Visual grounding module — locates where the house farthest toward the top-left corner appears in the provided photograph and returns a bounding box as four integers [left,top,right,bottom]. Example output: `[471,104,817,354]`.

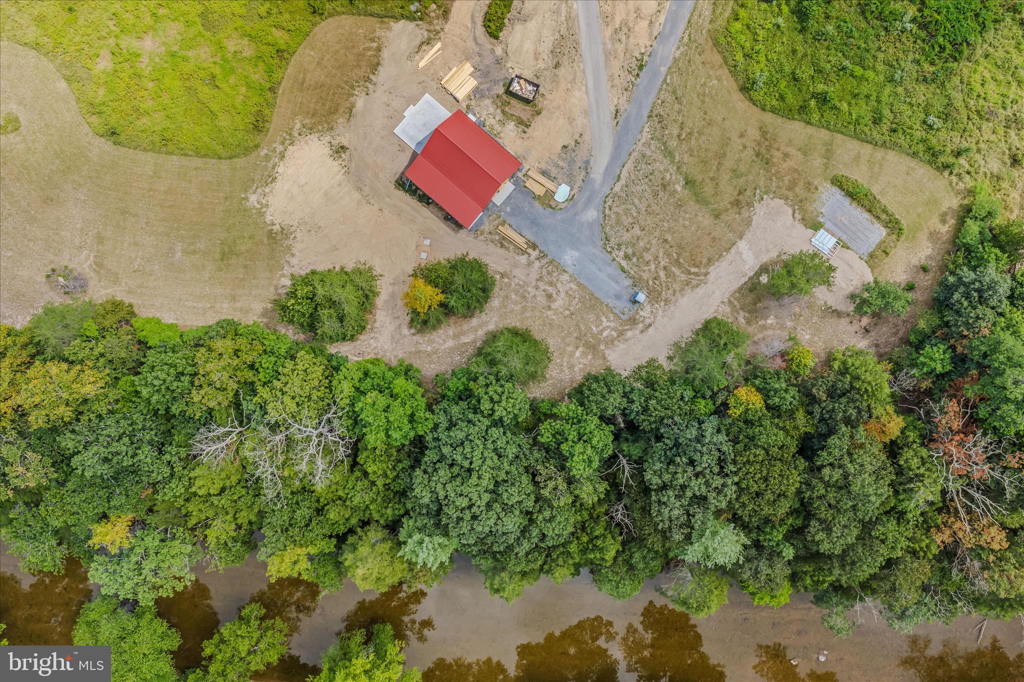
[404,109,523,232]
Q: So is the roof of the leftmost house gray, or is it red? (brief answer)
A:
red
